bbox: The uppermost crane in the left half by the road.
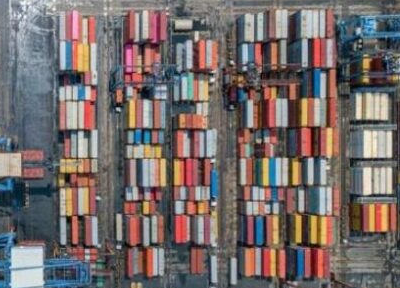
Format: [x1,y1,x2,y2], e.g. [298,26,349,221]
[104,62,185,95]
